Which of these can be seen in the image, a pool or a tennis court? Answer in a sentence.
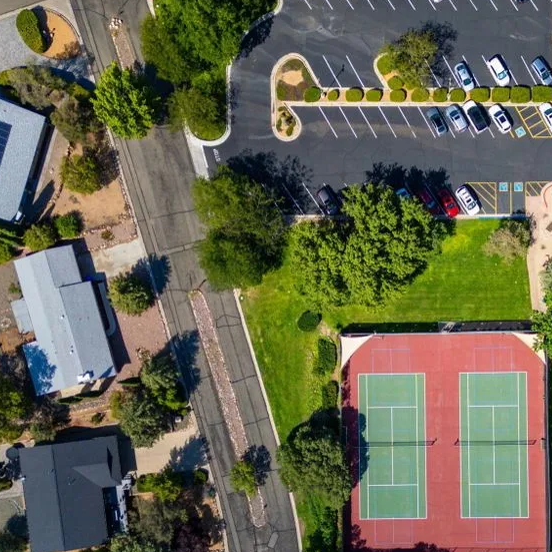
The image shows a tennis court.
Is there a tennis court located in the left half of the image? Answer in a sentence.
No, there is no tennis court in the left half of the image.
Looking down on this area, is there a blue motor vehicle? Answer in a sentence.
Yes, there's a blue motor vehicle here.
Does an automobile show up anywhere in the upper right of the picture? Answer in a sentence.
Yes, you'll find an automobile in the upper right of the picture.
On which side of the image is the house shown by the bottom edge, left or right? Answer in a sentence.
It is on the left.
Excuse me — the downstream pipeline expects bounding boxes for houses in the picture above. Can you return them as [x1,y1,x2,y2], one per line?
[0,100,52,220]
[11,245,123,396]
[19,436,128,552]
